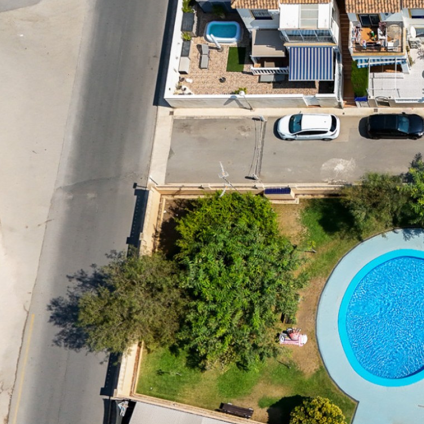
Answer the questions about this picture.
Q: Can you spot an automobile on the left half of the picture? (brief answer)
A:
No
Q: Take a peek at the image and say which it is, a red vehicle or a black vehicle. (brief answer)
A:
black vehicle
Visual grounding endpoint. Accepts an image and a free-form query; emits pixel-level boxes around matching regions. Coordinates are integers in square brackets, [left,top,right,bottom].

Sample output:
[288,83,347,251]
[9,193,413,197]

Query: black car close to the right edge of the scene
[366,111,424,141]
